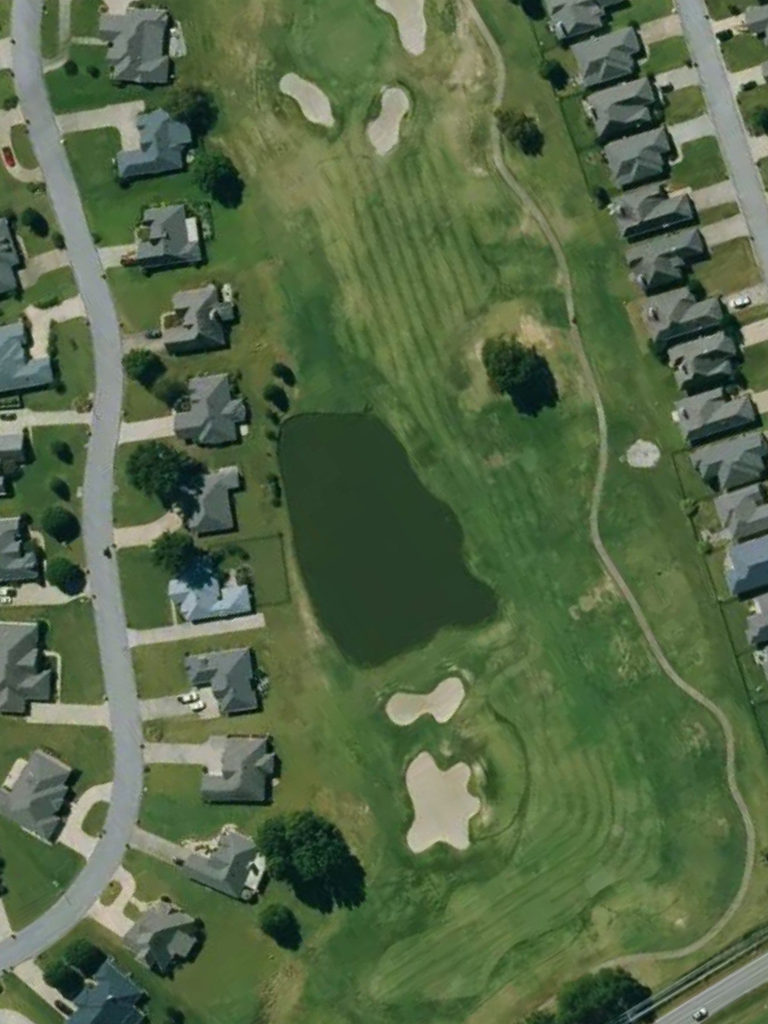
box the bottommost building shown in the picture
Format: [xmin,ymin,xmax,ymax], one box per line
[54,960,155,1024]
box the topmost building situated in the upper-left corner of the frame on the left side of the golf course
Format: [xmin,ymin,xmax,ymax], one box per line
[98,8,170,82]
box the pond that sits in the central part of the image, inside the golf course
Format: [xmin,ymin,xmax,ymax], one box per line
[279,413,498,668]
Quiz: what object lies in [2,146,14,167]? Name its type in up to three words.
vehicle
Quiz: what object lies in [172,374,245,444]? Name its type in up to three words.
house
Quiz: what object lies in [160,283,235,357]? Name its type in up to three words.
house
